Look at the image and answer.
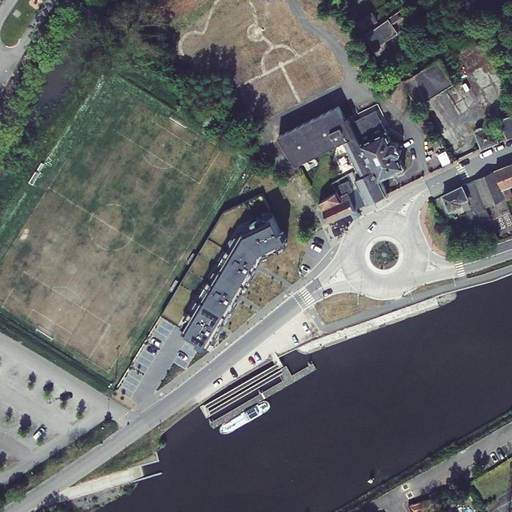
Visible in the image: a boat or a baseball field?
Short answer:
boat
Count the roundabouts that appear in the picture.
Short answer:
1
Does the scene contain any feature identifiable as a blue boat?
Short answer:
No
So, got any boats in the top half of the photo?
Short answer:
No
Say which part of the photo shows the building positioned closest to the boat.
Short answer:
center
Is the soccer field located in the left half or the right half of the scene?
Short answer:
left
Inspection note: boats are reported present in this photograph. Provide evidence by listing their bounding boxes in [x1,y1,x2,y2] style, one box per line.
[220,401,270,435]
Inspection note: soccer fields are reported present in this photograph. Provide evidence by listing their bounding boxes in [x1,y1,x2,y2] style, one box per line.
[0,76,249,380]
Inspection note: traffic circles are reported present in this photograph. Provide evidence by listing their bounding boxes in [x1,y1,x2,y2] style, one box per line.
[316,182,458,302]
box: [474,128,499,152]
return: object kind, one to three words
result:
house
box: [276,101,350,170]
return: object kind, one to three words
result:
building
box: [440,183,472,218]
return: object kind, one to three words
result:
house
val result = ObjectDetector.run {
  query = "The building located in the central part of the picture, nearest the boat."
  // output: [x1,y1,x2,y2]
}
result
[180,216,288,350]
